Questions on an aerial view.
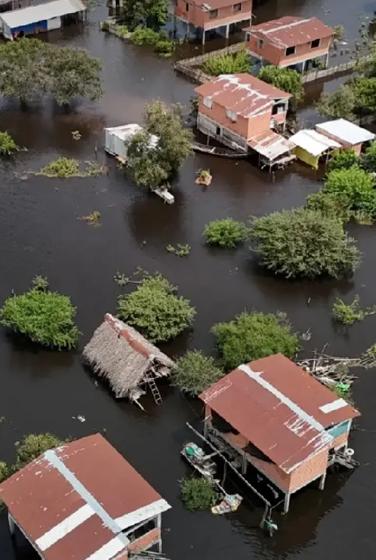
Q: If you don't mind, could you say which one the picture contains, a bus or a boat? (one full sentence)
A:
Looking from above, you can make out a boat.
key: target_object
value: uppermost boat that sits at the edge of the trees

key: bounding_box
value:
[191,141,249,159]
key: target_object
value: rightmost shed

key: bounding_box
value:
[316,119,376,159]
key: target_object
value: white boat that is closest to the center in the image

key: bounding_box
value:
[156,187,175,205]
